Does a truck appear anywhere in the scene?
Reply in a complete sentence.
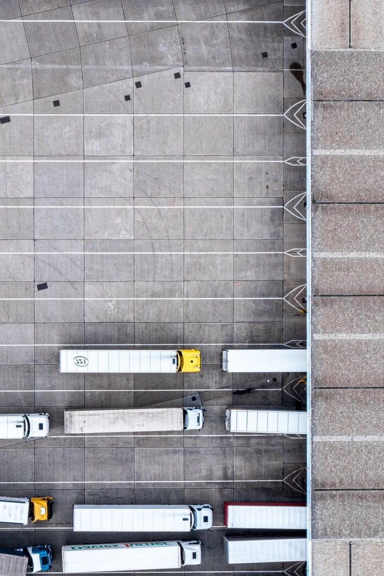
Yes, a truck appears in the view.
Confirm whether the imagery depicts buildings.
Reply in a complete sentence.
No, no building can be seen from above.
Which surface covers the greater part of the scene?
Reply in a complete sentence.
For the most part, this view shows paved ground.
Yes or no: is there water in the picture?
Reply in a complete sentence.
No, the scene doesn't show any water.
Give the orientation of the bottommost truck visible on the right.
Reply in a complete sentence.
What the image shows is the bottommost truck visible on the right lying horizontally.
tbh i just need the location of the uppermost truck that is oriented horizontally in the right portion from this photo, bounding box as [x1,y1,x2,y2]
[223,350,307,372]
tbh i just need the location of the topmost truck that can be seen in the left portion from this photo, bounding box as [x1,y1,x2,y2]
[58,349,202,374]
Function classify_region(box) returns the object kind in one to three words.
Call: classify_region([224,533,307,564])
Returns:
truck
